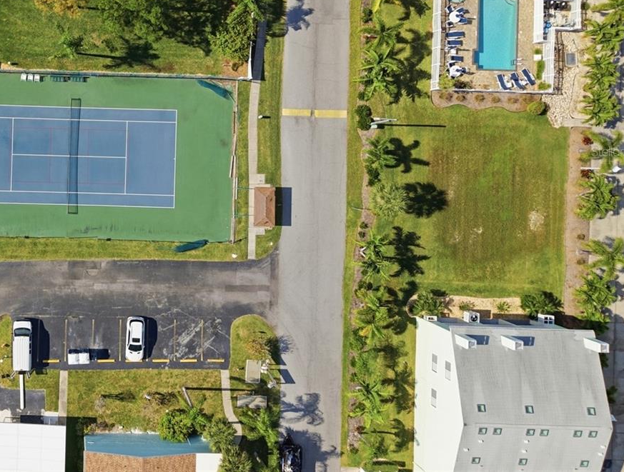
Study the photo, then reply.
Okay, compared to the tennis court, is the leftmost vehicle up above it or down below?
below it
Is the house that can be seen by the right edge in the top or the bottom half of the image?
bottom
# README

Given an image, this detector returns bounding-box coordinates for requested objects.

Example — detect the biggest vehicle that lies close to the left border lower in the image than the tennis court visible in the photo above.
[8,320,36,379]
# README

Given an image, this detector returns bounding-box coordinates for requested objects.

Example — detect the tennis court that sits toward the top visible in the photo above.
[0,73,239,243]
